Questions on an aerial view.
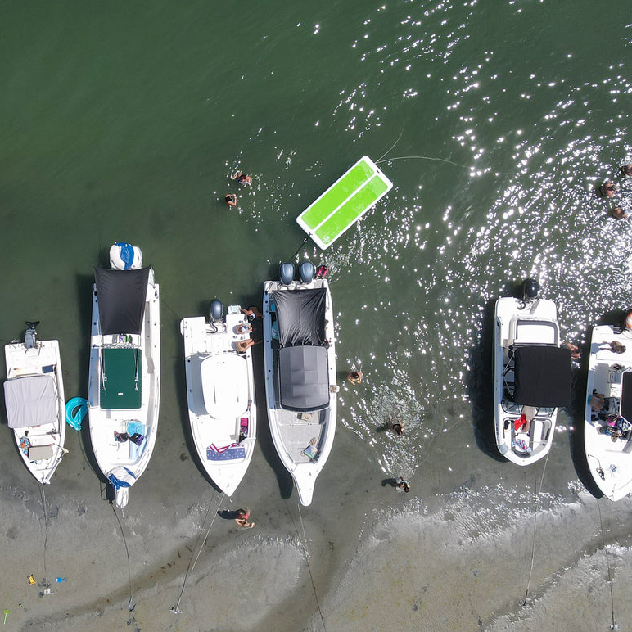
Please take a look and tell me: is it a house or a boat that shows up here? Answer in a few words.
boat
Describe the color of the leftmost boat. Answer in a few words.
white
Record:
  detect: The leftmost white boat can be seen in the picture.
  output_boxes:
[5,321,68,484]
